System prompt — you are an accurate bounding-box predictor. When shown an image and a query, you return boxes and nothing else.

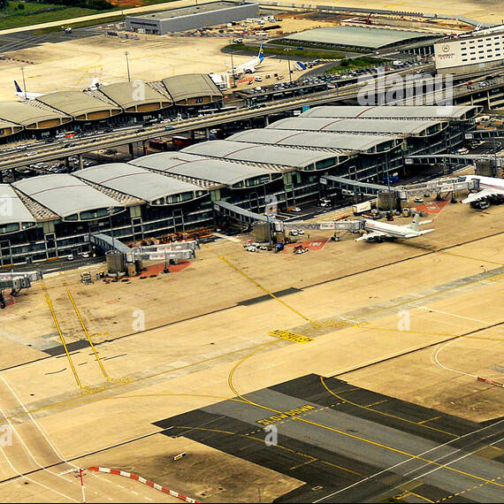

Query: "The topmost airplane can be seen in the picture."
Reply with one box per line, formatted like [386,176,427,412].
[228,46,282,75]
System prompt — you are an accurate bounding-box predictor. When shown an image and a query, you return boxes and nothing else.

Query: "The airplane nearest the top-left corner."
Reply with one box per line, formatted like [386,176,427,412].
[10,82,39,101]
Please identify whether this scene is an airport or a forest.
airport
